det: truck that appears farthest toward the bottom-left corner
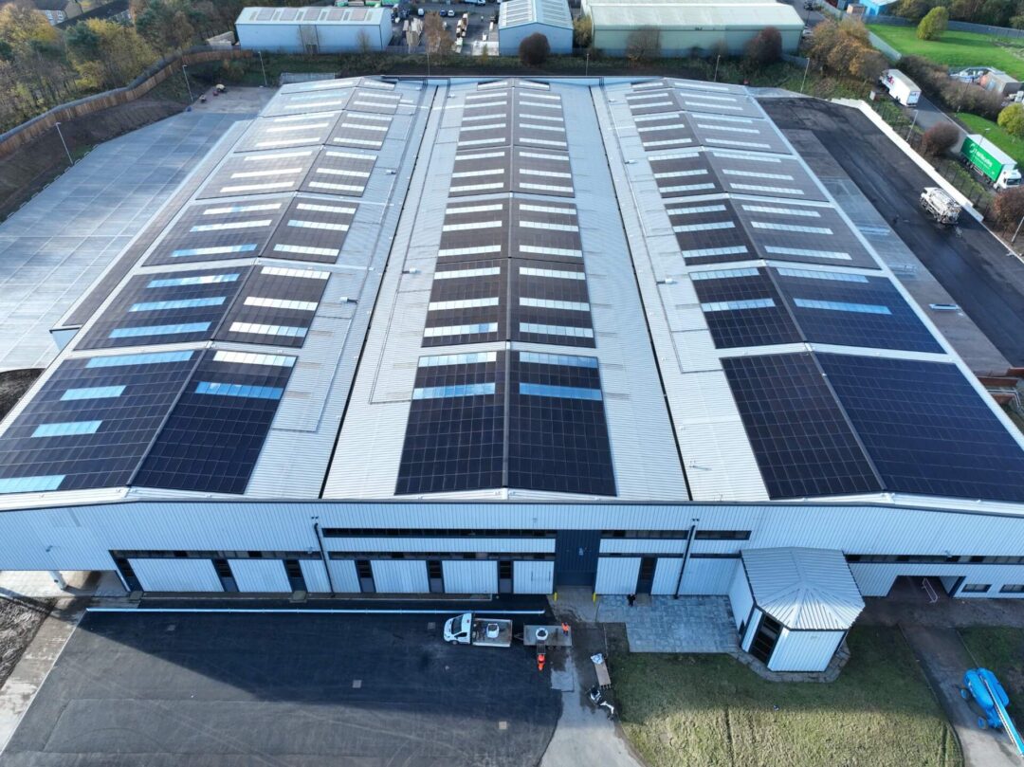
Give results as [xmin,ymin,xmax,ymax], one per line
[442,614,512,647]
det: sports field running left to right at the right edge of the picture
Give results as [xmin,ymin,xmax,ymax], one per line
[855,22,1024,77]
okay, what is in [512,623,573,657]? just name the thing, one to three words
trailer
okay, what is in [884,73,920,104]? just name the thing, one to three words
truck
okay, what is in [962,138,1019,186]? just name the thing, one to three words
truck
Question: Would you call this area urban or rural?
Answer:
urban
